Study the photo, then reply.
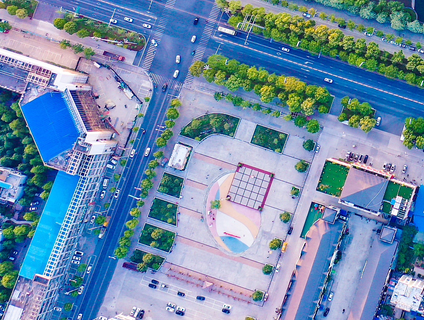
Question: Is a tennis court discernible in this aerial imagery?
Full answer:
No, I can see no tennis court in this picture.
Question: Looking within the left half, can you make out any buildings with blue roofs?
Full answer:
Yes, looking within the left half, one can make out a building with a blue roof.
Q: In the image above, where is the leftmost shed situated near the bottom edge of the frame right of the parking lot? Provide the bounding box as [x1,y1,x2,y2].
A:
[281,219,349,320]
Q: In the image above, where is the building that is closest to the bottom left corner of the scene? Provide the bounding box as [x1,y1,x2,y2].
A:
[2,274,69,320]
